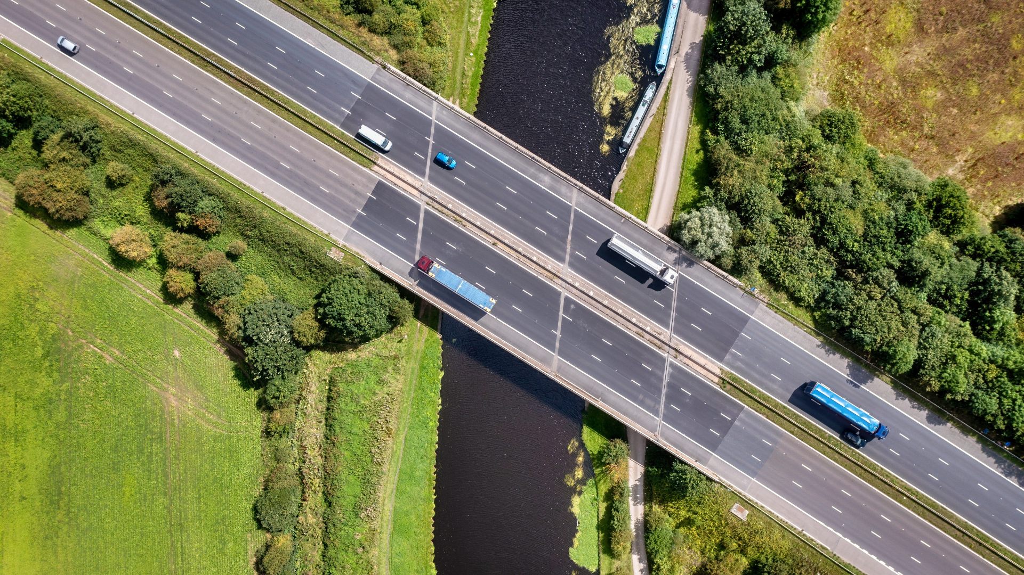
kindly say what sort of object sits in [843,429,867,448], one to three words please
car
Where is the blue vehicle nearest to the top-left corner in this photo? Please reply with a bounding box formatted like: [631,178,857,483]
[436,152,457,169]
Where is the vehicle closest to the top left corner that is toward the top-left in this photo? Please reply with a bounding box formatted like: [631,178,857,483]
[58,36,80,53]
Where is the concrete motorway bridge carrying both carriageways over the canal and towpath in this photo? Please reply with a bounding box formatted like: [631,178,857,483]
[361,60,751,478]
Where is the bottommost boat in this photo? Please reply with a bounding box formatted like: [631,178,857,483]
[618,81,656,154]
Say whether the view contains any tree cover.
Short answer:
Yes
